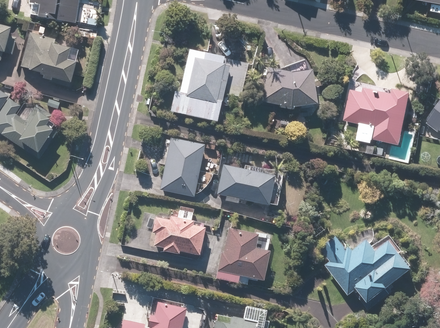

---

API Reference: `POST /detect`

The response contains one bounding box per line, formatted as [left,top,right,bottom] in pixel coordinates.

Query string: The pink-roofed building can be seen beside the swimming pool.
[343,86,408,146]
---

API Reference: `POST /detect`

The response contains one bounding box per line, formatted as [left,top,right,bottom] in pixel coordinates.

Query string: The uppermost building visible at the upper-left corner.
[30,0,80,24]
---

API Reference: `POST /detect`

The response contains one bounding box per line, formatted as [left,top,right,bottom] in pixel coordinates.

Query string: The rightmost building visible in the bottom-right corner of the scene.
[324,236,410,304]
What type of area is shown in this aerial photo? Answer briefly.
residential area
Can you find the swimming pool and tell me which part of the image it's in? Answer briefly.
right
